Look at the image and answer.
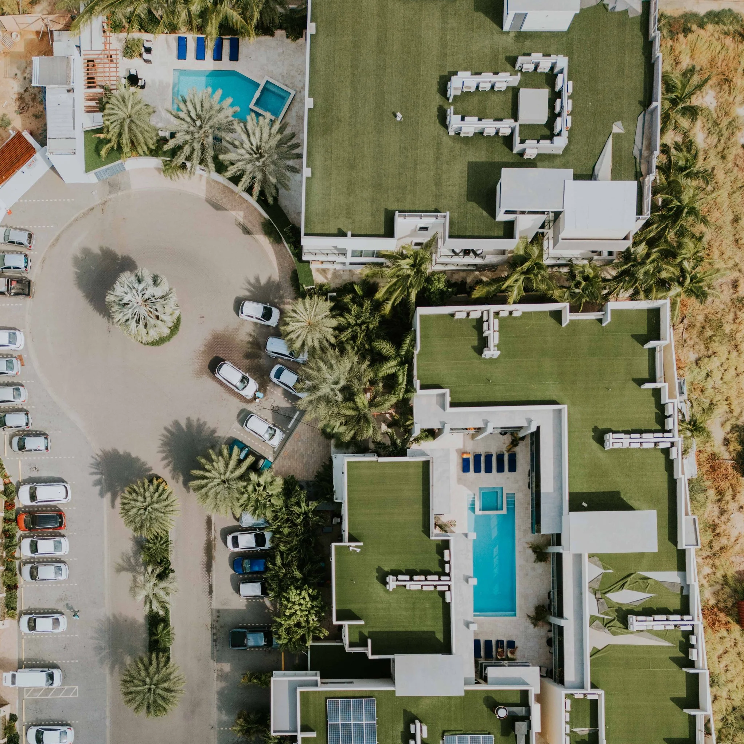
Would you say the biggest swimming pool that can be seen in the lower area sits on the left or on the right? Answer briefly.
right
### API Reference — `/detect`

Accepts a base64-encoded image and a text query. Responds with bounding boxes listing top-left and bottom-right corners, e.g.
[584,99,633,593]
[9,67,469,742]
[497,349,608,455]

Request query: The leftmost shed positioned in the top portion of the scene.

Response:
[0,133,46,185]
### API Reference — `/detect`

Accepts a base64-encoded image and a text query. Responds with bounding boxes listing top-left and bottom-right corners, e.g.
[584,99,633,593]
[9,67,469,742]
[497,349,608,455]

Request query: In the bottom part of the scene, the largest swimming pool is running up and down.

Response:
[468,494,516,617]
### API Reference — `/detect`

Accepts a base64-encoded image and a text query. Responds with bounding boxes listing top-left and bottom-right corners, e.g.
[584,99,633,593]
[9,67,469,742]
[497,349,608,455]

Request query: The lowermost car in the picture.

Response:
[27,725,74,744]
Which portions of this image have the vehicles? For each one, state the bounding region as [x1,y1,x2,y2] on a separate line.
[21,535,69,558]
[0,250,31,275]
[18,509,65,533]
[0,224,36,250]
[4,667,63,689]
[19,481,70,505]
[0,386,28,406]
[233,555,272,577]
[0,408,32,431]
[0,357,20,377]
[20,612,66,635]
[228,432,273,472]
[211,357,260,401]
[21,560,69,584]
[267,362,309,399]
[27,725,74,744]
[237,579,276,599]
[12,432,51,453]
[237,299,281,328]
[227,529,273,552]
[0,328,24,349]
[0,275,36,300]
[241,411,286,450]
